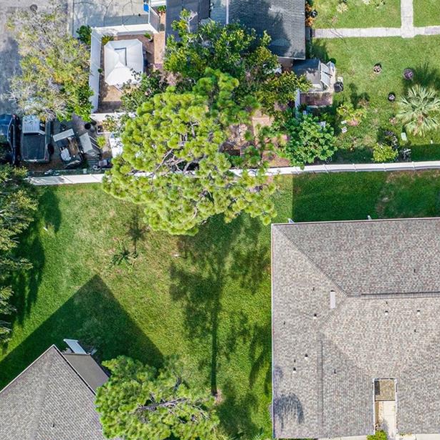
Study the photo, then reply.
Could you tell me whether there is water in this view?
No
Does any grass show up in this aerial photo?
Yes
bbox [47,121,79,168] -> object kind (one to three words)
trailer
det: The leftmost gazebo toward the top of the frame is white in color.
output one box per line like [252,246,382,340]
[96,38,148,90]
